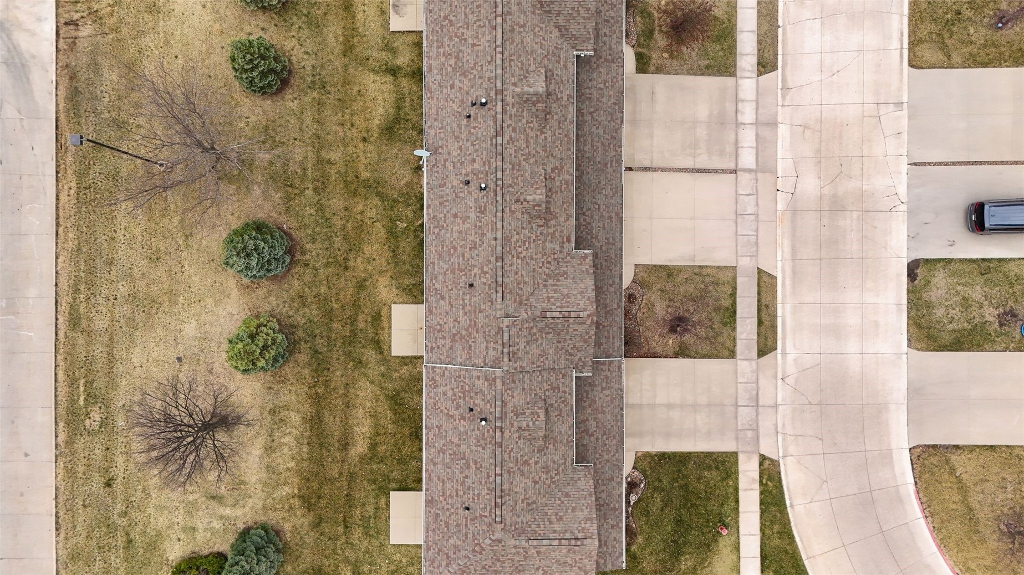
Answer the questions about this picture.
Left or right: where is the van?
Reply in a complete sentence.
The van is on the right side of the image.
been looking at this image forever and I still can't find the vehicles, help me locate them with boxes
[965,197,1024,235]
